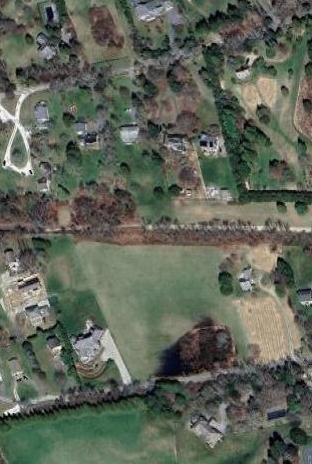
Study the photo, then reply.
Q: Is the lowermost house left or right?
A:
right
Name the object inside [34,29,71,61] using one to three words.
house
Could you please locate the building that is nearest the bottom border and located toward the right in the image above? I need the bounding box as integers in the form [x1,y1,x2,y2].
[187,412,224,448]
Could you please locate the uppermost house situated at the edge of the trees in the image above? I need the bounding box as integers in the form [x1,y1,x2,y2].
[129,0,183,24]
